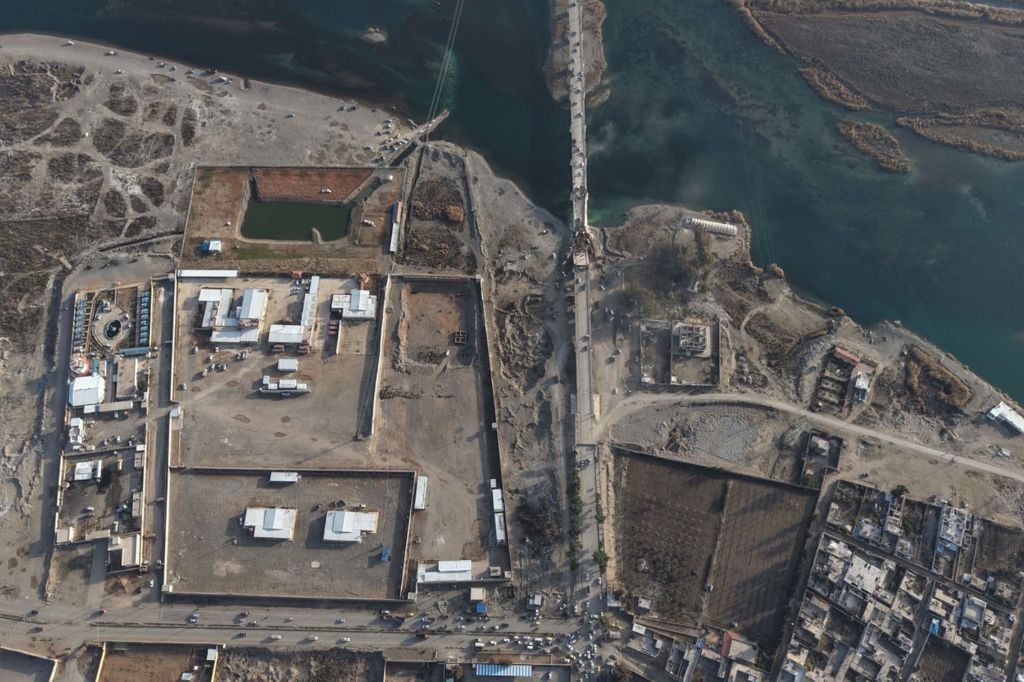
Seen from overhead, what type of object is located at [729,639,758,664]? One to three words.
house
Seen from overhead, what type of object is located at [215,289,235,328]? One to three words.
building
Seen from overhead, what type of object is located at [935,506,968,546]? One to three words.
house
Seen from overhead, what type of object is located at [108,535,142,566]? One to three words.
building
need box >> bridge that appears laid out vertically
[567,0,598,442]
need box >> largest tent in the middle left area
[69,377,109,407]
